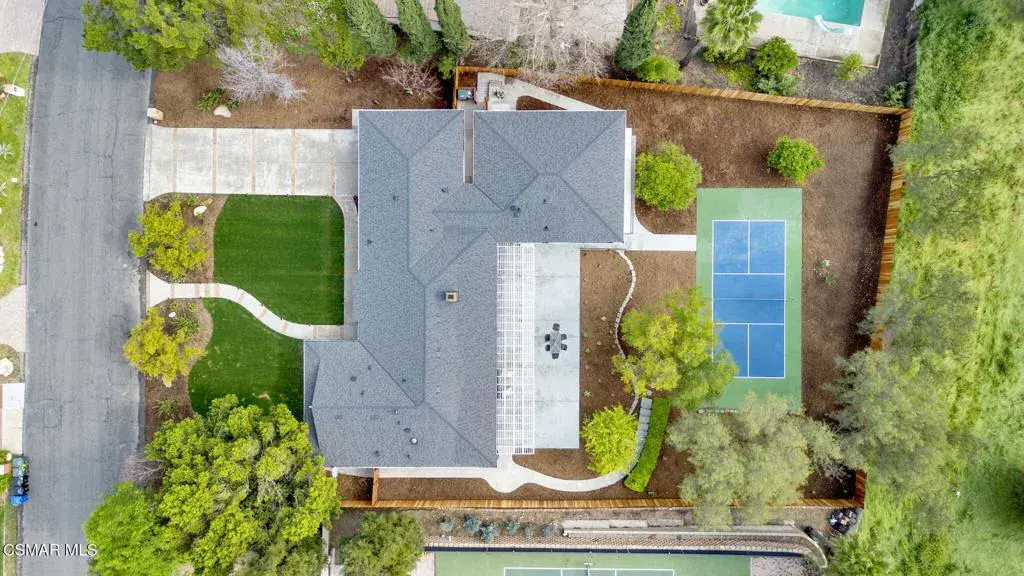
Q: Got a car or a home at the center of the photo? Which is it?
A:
home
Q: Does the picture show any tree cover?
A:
Yes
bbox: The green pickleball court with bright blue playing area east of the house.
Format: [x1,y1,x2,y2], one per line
[697,188,802,411]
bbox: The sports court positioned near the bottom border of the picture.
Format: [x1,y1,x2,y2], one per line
[434,549,750,576]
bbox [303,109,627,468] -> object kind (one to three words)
house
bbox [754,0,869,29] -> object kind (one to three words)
swimming pool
